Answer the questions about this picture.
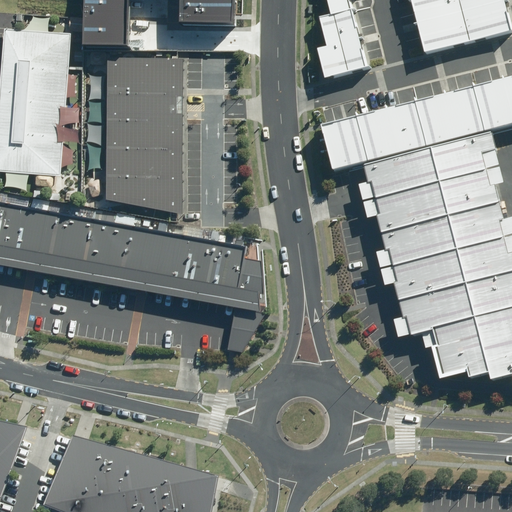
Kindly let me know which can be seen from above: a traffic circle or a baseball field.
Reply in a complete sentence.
This aerial view contains a traffic circle.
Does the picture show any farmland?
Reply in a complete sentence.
No, there's no farmland in this view.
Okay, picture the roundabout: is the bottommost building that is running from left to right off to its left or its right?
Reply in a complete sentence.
The bottommost building that is running from left to right can be seen on the left of the roundabout.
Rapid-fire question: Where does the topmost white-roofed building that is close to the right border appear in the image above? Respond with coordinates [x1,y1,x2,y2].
[408,0,512,54]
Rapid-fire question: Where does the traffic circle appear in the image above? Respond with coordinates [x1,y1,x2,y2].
[226,356,390,486]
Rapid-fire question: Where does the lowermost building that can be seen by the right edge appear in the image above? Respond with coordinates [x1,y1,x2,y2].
[358,130,512,380]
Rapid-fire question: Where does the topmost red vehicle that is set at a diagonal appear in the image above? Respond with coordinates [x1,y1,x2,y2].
[362,324,378,338]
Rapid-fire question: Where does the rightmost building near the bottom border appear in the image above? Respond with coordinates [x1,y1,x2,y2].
[44,436,218,512]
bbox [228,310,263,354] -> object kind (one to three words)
building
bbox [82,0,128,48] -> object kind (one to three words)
building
